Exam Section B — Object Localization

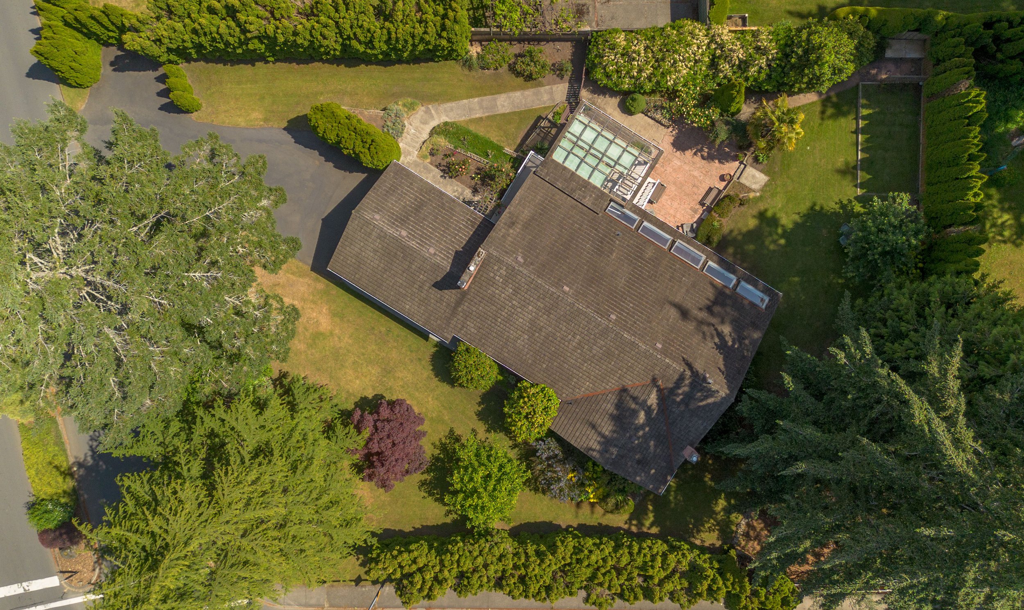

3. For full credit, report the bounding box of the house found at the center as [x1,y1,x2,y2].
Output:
[326,98,778,496]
